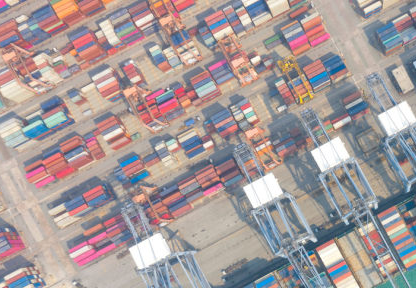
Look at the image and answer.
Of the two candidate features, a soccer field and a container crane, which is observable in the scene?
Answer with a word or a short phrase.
container crane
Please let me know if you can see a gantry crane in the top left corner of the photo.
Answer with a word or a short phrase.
Yes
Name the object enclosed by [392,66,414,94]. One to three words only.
building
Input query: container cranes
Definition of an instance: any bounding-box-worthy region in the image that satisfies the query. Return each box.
[231,140,328,288]
[277,54,314,105]
[128,185,174,229]
[119,202,215,288]
[216,33,256,85]
[363,68,416,196]
[1,46,54,97]
[156,11,194,65]
[245,131,283,176]
[297,104,412,288]
[123,85,168,134]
